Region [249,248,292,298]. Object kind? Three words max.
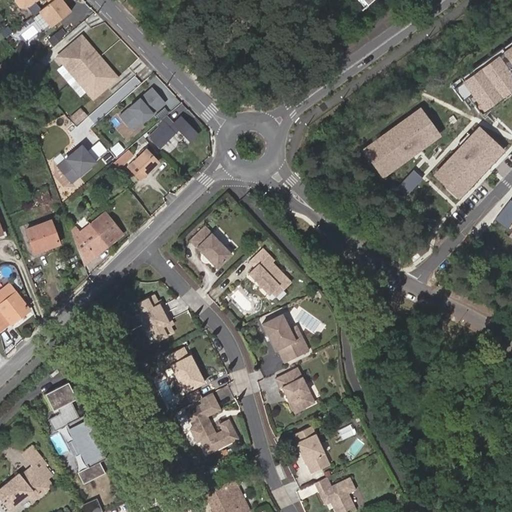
house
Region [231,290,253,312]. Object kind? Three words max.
swimming pool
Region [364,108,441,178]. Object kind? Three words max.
building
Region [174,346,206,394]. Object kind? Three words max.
house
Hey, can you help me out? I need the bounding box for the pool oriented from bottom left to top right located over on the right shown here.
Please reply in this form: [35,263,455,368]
[345,438,364,461]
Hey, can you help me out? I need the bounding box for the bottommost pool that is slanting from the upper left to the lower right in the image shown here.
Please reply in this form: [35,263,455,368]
[50,432,69,455]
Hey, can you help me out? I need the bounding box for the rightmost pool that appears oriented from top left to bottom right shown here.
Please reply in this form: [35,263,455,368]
[296,310,322,332]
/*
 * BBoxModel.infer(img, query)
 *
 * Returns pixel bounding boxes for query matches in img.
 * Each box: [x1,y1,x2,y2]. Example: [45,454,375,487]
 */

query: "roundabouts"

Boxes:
[213,112,286,184]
